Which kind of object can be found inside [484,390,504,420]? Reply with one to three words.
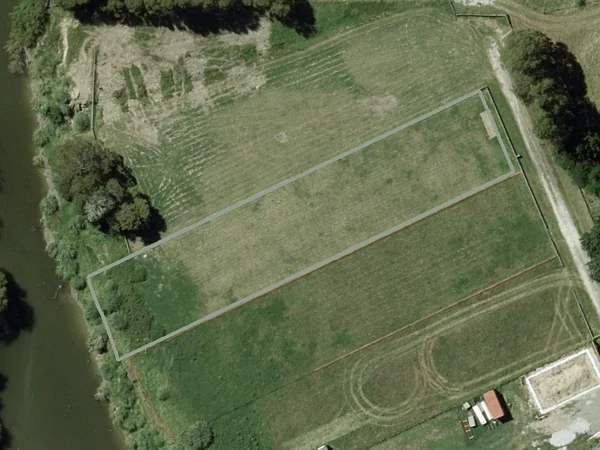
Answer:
shed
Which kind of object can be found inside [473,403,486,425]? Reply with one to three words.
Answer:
vehicle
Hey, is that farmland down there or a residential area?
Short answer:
farmland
